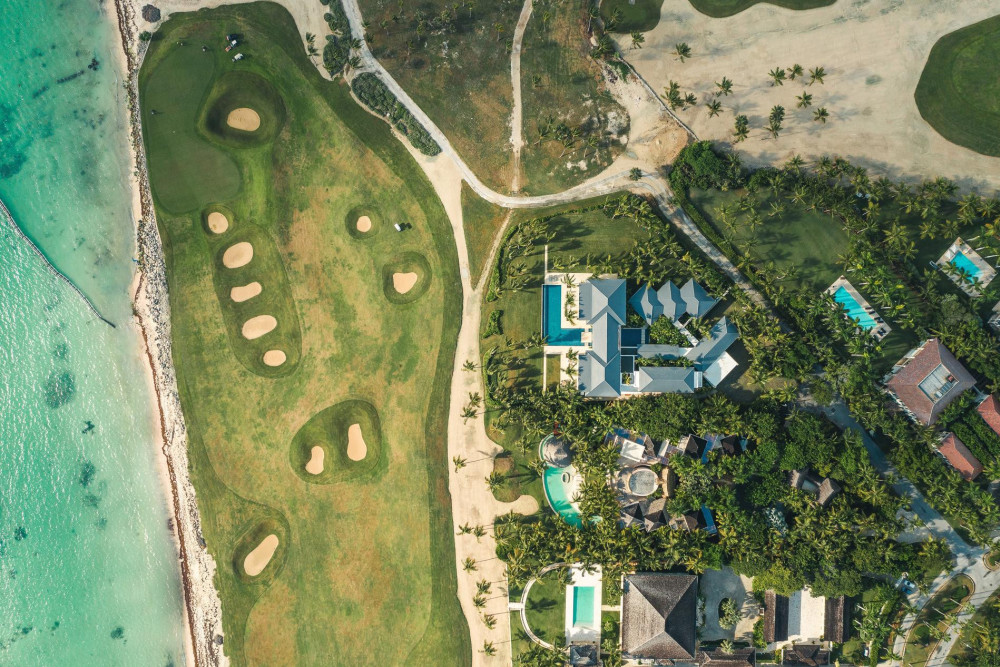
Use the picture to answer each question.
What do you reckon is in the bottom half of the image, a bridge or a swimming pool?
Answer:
swimming pool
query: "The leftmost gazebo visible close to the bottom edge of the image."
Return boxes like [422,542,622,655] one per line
[566,643,604,667]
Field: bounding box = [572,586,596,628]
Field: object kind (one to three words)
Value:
swimming pool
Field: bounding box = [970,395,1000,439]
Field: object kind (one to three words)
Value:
house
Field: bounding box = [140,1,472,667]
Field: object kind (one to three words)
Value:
golf course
